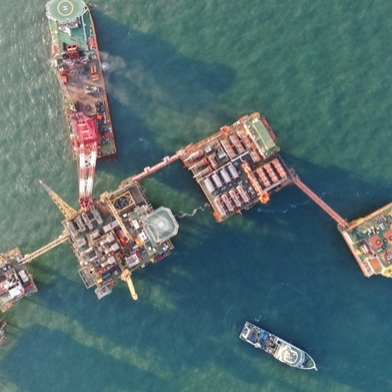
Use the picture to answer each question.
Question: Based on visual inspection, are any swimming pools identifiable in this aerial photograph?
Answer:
No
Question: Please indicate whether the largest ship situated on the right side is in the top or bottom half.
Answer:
bottom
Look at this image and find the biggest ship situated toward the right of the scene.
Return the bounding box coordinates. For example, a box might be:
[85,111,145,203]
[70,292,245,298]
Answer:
[239,321,319,371]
